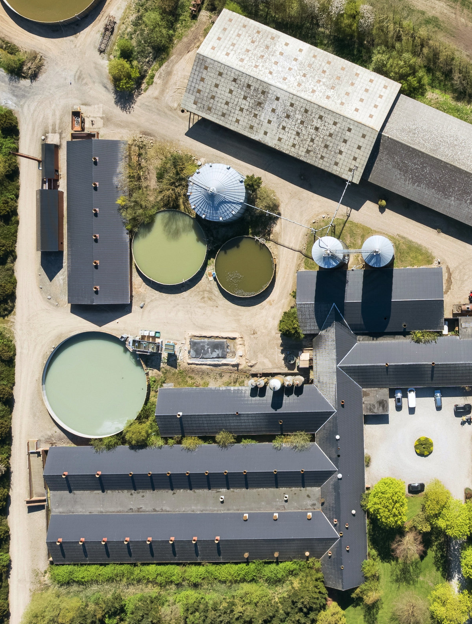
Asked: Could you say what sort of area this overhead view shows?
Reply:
industrial area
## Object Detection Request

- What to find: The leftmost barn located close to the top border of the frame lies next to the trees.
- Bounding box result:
[182,8,401,183]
